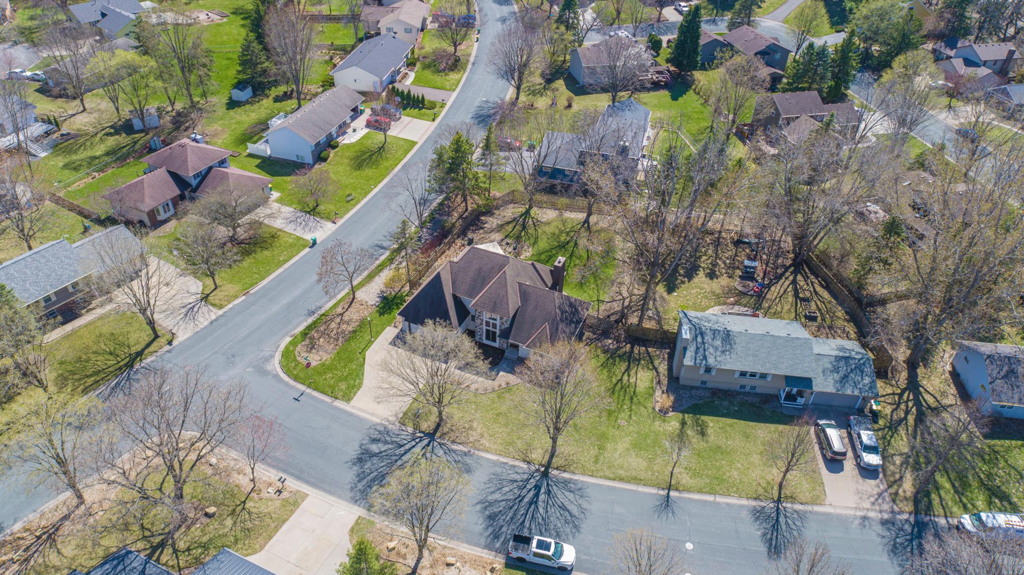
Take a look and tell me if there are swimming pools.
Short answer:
No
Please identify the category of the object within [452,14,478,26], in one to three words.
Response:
vehicle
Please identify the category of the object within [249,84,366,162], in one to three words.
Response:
house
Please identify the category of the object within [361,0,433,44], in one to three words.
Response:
house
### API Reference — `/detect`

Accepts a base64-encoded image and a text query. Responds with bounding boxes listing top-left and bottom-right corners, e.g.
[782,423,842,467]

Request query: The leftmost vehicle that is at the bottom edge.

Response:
[506,529,577,570]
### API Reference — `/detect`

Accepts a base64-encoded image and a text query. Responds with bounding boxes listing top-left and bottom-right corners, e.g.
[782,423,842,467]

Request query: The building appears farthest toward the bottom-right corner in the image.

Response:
[956,341,1024,424]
